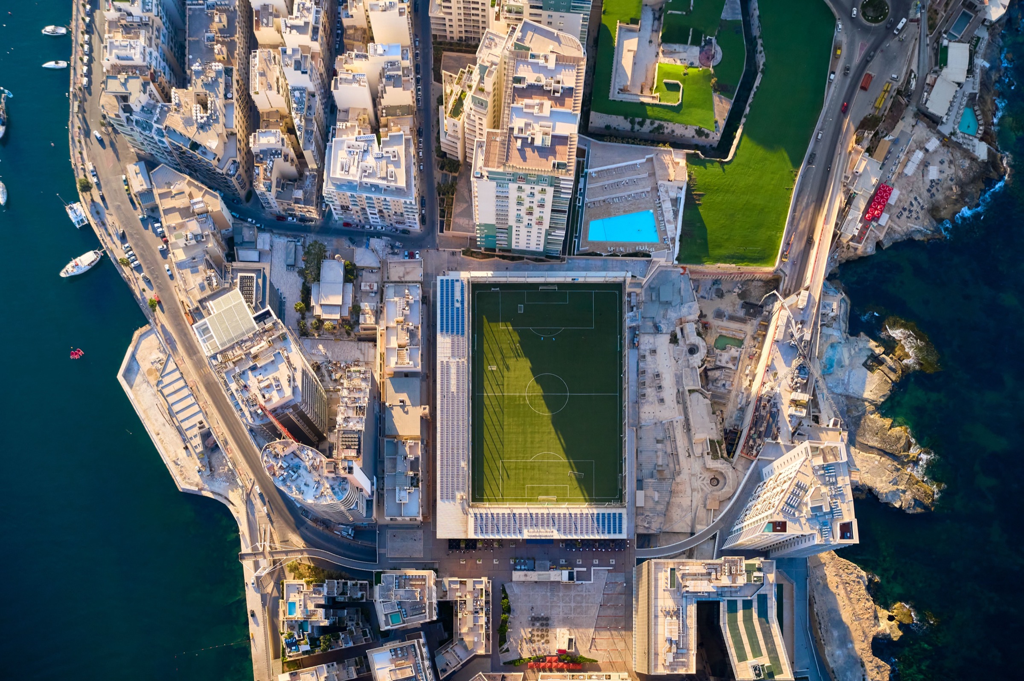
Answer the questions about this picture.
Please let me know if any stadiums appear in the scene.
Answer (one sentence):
Yes, the photo shows a stadium.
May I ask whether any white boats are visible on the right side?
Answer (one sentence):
No, no white boat appears on the right side.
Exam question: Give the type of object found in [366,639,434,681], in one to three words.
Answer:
building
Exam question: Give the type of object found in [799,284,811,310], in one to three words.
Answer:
vehicle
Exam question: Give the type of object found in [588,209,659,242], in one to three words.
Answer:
swimming pool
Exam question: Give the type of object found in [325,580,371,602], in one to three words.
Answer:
house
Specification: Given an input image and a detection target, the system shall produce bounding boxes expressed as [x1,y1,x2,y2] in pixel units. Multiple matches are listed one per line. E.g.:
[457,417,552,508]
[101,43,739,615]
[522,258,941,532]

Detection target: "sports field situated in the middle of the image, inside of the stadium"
[472,283,623,504]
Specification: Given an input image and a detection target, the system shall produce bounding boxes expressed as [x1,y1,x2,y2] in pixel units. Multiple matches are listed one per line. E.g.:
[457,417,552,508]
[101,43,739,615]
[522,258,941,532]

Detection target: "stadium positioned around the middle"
[470,282,628,538]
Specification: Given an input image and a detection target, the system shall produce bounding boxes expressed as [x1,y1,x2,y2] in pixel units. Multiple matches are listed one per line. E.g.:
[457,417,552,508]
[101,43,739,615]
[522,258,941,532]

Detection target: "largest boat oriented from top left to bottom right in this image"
[54,192,90,230]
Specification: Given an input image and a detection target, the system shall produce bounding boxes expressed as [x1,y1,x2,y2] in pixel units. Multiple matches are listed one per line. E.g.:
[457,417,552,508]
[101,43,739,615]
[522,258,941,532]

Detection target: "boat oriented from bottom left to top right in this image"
[56,242,103,276]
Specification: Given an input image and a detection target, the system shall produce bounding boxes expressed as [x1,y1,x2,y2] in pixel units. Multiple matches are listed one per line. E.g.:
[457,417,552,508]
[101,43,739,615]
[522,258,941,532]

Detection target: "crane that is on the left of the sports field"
[251,396,354,522]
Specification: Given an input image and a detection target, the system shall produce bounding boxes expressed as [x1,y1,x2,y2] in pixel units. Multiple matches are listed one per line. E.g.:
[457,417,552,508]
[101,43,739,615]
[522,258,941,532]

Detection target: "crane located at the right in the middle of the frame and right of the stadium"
[767,324,845,424]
